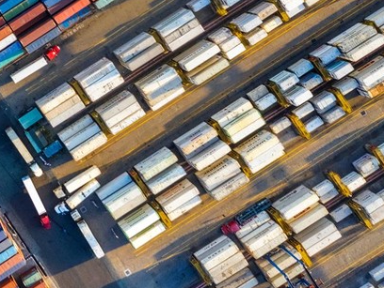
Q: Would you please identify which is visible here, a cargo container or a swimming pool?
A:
cargo container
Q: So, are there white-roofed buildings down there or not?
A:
No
